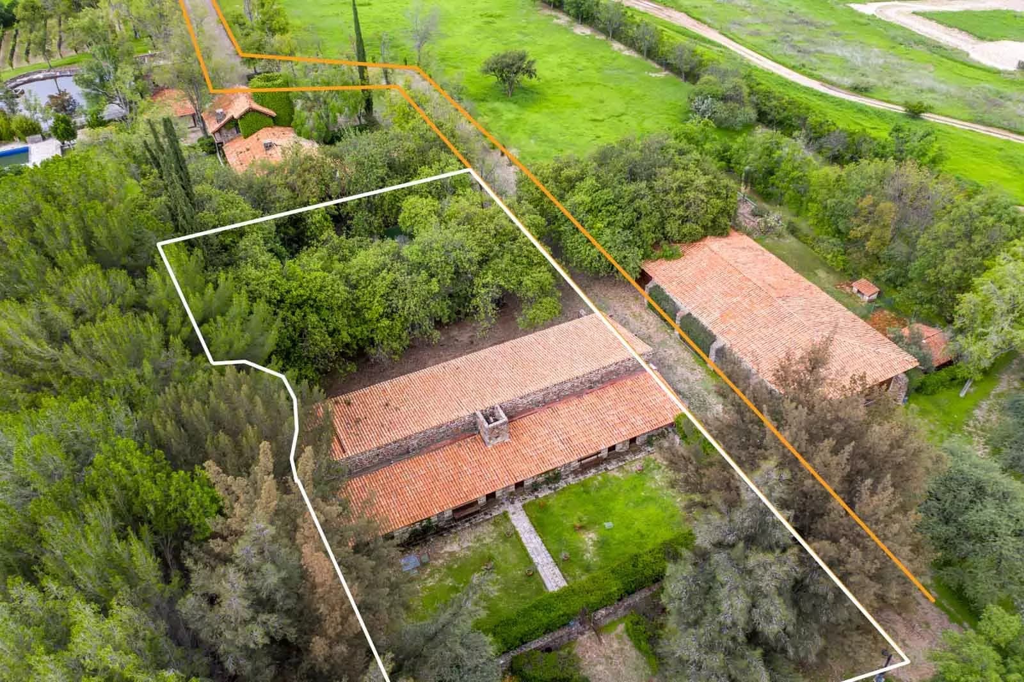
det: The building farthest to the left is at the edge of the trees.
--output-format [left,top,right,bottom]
[15,131,49,145]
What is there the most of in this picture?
trees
